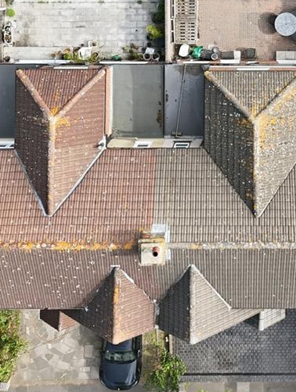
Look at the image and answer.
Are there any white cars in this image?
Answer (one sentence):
No, the scene contains no white car.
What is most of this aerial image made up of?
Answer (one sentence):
What you mostly see from above here is buildings.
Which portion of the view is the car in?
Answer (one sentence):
The car sits in the bottom section of the image.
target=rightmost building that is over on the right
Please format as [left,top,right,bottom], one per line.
[153,56,296,346]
